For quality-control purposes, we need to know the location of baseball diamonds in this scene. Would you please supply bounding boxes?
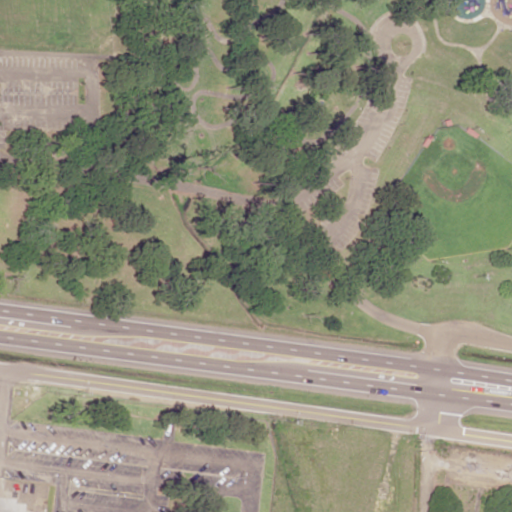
[398,126,512,260]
